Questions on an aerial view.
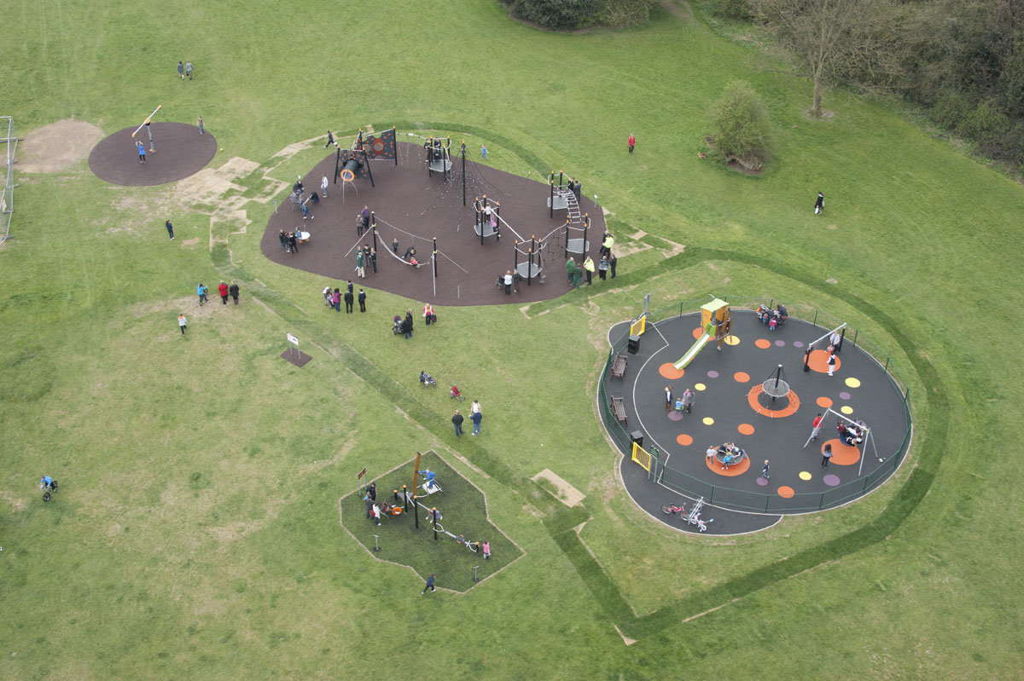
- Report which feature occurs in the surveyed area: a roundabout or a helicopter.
roundabout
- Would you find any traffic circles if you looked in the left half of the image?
No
